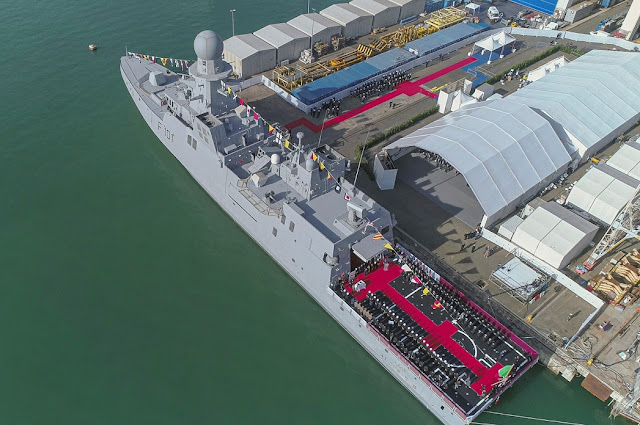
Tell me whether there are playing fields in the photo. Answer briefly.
No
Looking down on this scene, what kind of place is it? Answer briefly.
port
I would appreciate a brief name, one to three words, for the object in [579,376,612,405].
pier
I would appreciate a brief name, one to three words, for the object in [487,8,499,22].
vehicle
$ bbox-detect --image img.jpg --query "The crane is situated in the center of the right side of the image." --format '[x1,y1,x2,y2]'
[570,159,640,278]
